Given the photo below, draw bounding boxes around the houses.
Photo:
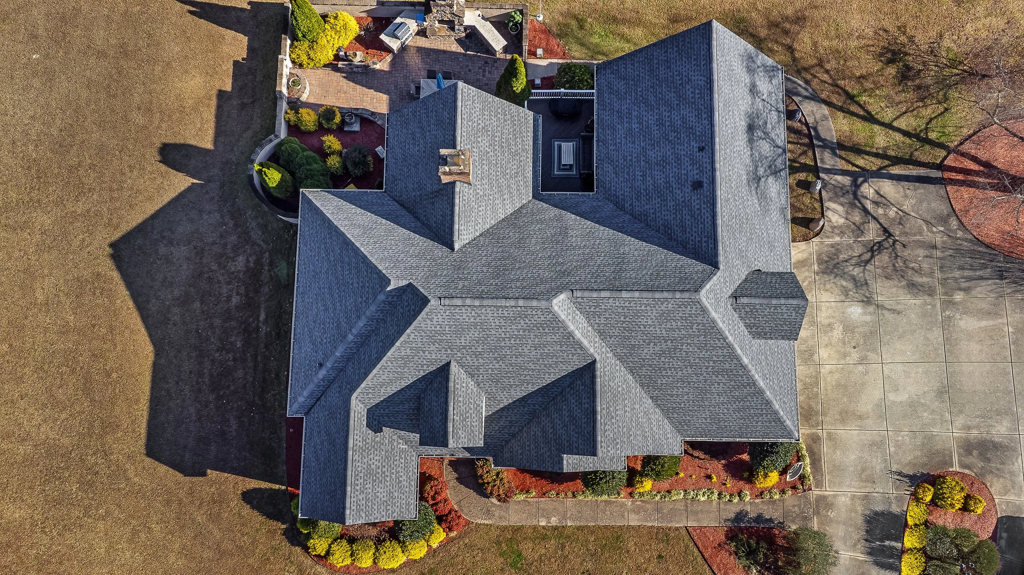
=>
[287,19,809,527]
